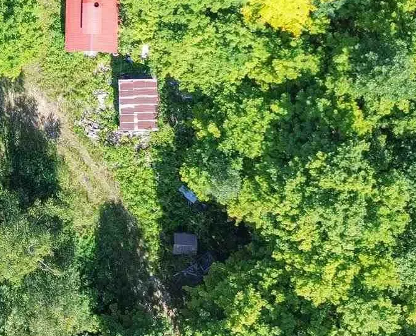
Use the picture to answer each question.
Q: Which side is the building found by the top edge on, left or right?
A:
left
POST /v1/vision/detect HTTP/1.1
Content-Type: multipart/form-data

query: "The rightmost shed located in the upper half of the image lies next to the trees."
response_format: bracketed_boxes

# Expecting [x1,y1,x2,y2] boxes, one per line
[117,78,159,132]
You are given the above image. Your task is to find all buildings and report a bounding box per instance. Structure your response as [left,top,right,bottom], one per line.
[117,78,159,132]
[172,228,198,254]
[65,0,118,57]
